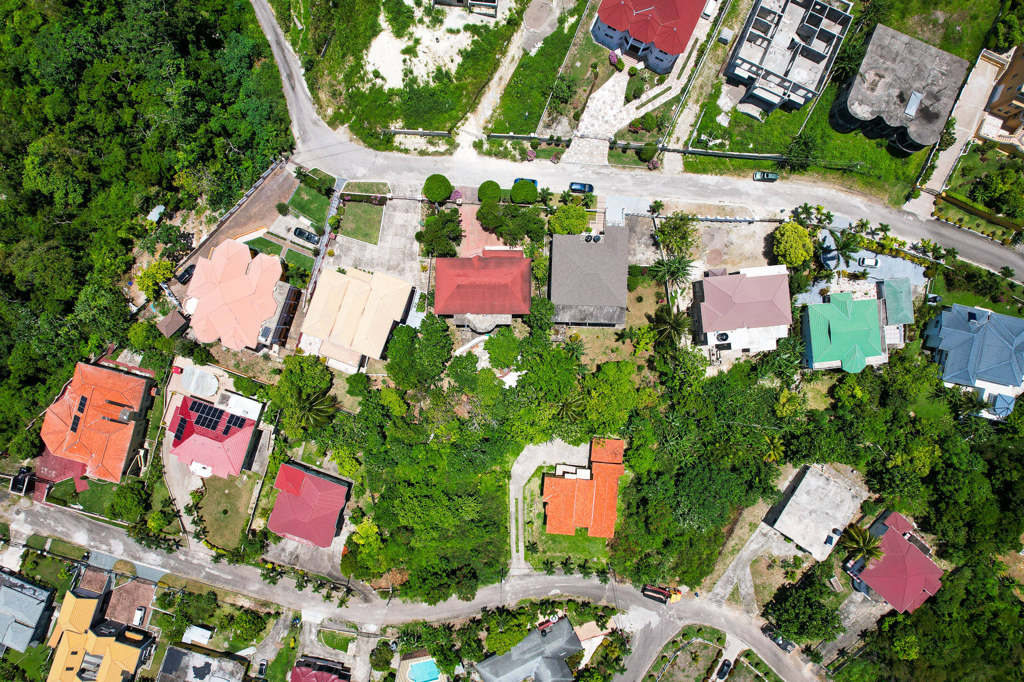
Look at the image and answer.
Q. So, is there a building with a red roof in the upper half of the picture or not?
Yes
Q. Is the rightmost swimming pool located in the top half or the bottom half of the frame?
bottom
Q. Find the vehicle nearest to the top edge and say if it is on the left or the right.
right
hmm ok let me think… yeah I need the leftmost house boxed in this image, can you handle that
[0,565,64,653]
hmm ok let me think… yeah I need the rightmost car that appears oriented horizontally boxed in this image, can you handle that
[857,257,881,269]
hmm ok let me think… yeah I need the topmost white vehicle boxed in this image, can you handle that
[698,0,718,24]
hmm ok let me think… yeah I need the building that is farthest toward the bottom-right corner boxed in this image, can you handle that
[843,508,944,615]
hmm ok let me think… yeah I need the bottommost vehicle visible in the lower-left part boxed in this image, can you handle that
[257,656,271,680]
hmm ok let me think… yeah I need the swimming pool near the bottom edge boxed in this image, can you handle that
[402,659,441,682]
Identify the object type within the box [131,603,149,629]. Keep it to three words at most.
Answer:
vehicle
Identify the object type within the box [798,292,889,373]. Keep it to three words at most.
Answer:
building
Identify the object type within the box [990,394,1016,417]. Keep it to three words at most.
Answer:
gazebo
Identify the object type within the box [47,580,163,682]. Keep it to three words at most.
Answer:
house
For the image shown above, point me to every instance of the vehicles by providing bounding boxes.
[857,257,881,269]
[257,656,271,680]
[175,263,196,287]
[131,603,149,629]
[569,182,594,195]
[698,0,718,24]
[752,170,779,183]
[714,656,733,682]
[13,468,29,491]
[761,620,792,656]
[293,227,320,244]
[641,580,684,607]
